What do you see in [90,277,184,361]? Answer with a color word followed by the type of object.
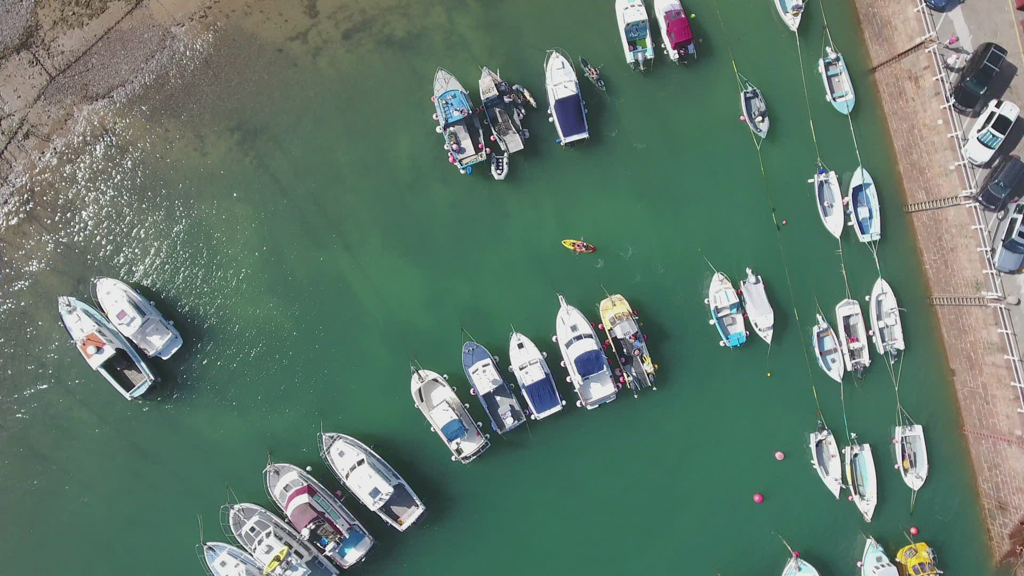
white boat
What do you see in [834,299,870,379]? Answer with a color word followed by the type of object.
white boat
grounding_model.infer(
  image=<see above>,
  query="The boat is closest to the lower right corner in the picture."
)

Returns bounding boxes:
[895,540,944,576]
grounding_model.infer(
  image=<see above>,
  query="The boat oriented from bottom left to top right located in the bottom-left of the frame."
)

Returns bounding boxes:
[263,546,288,575]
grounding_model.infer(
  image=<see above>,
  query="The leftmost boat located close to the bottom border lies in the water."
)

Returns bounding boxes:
[196,540,269,576]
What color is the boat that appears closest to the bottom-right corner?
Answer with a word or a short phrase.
yellow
